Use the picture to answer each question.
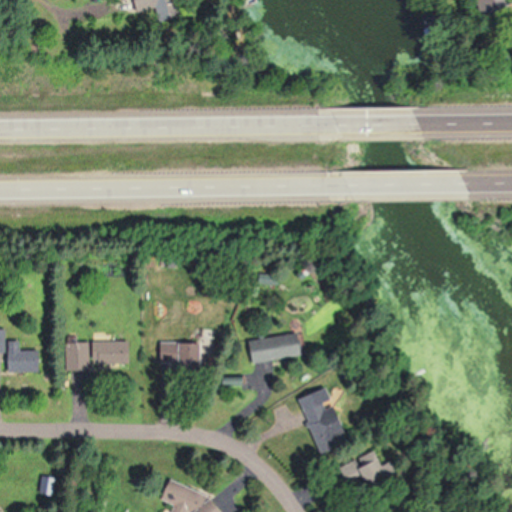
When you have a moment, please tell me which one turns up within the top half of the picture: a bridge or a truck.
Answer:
bridge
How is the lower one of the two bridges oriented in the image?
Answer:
horizontally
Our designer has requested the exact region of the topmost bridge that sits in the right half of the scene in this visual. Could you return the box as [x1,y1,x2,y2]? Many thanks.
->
[320,105,423,143]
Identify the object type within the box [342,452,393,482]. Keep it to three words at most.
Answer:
house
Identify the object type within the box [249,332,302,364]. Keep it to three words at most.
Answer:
house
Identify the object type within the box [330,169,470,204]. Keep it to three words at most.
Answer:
bridge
